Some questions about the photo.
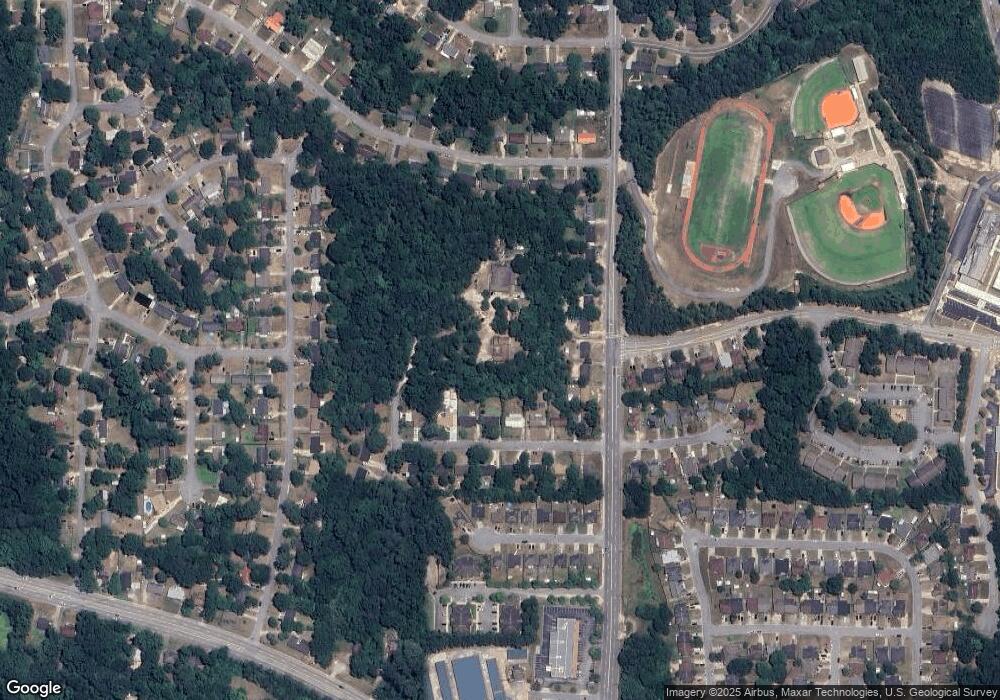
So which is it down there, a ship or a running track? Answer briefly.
running track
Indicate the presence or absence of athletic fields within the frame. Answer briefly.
Yes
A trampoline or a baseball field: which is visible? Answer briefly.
baseball field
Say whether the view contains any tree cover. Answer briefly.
Yes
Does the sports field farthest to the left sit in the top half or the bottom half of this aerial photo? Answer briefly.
top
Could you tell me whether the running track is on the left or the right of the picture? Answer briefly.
right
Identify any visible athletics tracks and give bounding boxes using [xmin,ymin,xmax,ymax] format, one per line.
[680,101,771,274]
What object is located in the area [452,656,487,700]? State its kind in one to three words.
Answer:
building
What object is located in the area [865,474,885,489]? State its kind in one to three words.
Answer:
building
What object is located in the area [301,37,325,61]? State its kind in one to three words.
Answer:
house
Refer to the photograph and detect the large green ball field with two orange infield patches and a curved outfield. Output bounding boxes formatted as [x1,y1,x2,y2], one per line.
[786,163,907,286]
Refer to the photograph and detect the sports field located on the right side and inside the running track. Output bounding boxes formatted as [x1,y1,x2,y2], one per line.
[687,108,765,264]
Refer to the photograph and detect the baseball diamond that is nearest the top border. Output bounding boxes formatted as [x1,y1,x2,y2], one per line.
[790,57,859,138]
